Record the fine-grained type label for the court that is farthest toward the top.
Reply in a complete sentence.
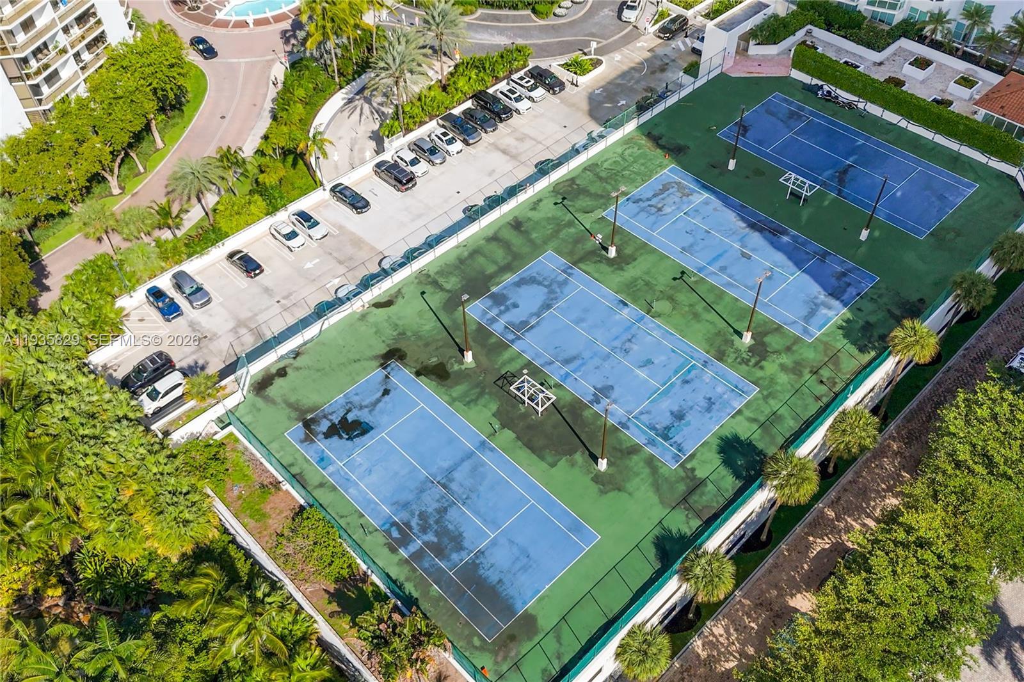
Specifically, the court that is farthest toward the top is a tennis court.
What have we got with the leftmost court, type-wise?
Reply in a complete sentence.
It looks like the leftmost court is a tennis court.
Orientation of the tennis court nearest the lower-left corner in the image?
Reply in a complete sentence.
The tennis court nearest the lower-left corner is laid out at an angle.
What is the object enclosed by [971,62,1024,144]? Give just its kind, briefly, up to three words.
building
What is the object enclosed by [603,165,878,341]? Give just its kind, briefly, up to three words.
tennis court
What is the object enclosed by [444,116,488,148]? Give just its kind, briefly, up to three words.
truck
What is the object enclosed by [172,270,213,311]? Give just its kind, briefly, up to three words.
car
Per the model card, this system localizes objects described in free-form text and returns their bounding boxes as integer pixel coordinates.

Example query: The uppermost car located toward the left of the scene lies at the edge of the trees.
[189,37,218,60]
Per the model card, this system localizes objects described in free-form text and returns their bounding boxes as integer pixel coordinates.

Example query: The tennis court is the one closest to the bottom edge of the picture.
[286,360,600,641]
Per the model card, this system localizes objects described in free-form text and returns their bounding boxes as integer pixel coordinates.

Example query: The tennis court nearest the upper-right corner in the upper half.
[719,93,977,238]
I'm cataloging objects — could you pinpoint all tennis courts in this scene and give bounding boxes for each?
[603,165,878,341]
[286,360,600,641]
[719,93,977,238]
[465,250,758,469]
